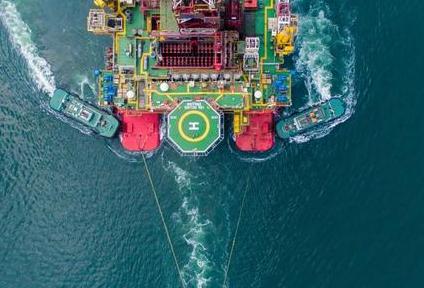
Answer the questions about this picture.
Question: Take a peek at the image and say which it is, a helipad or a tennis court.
helipad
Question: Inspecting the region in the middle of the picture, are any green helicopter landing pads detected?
Yes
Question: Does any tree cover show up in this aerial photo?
No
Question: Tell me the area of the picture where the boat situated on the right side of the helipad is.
right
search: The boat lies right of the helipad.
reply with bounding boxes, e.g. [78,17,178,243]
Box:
[276,97,347,141]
